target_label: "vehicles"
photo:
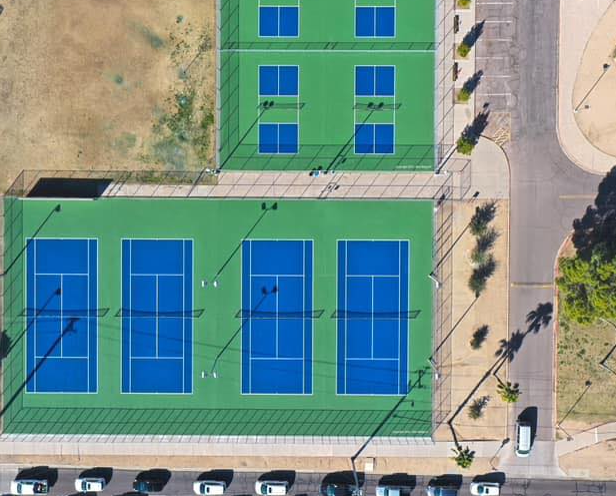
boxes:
[375,482,414,496]
[194,478,225,495]
[469,480,502,496]
[513,416,532,453]
[257,478,288,496]
[134,476,165,492]
[11,476,49,493]
[76,475,107,492]
[322,481,353,496]
[426,481,458,496]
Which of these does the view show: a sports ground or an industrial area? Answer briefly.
sports ground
